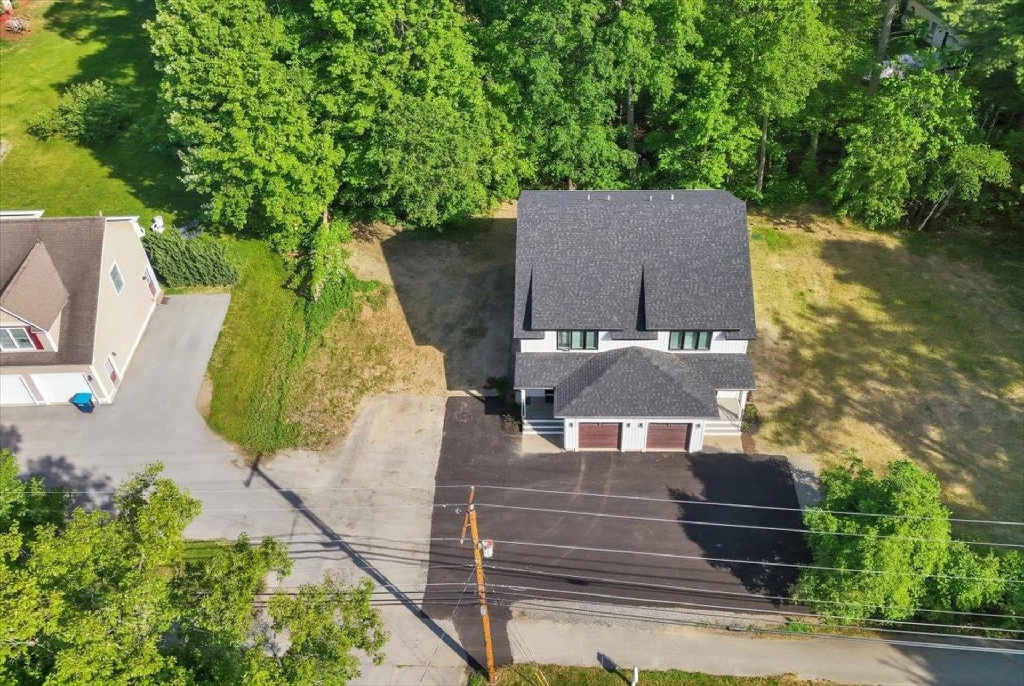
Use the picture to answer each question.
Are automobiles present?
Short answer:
No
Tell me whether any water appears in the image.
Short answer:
No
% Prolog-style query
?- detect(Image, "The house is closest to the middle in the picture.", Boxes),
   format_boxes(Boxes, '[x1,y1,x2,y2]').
[513,188,758,456]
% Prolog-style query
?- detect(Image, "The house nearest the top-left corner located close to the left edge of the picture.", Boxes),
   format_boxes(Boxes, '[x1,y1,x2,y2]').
[0,209,174,407]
